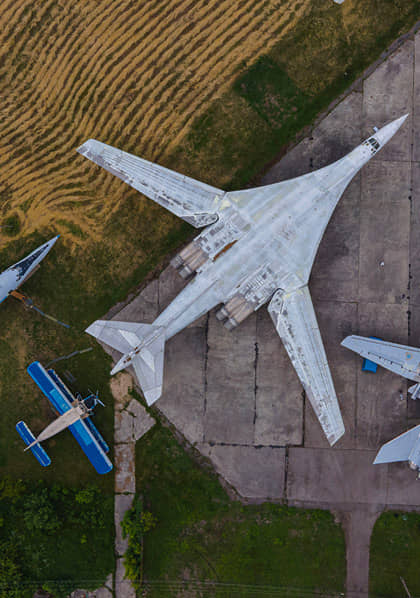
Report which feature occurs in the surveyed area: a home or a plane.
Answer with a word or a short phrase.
plane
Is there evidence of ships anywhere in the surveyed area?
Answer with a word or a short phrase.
No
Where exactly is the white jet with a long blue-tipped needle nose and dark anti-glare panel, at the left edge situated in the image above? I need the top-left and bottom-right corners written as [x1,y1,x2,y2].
[0,236,60,304]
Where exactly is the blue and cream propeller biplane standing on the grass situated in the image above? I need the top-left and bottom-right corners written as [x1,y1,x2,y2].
[16,363,112,474]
